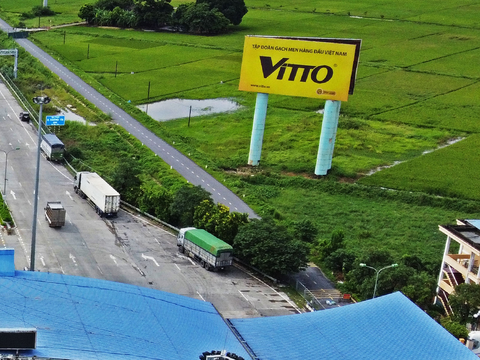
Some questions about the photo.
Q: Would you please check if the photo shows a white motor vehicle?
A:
Yes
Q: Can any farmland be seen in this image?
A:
Yes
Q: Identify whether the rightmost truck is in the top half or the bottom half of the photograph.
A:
bottom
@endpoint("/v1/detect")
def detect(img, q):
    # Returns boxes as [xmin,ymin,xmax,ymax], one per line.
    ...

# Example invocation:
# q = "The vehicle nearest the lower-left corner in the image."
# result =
[47,202,65,225]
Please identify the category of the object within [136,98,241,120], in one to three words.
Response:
pond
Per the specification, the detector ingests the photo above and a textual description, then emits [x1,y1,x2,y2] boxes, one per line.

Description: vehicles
[21,111,30,120]
[75,175,119,217]
[174,228,231,268]
[47,202,65,225]
[41,135,62,158]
